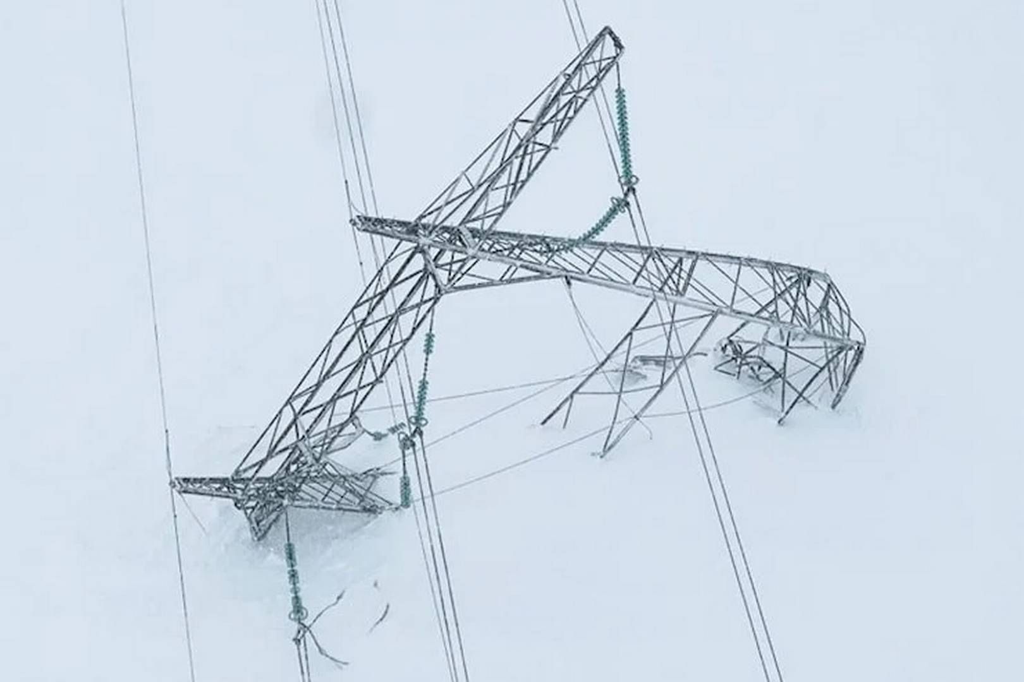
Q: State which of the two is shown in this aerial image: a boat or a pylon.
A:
pylon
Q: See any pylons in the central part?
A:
Yes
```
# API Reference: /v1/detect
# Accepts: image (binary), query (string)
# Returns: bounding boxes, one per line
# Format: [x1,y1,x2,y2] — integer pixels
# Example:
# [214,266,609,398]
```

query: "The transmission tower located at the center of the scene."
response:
[176,26,866,540]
